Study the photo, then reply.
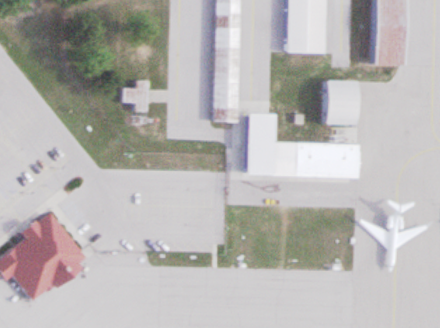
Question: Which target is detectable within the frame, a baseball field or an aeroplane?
aeroplane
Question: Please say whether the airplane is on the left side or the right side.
right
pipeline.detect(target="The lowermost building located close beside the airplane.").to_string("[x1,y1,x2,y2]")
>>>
[244,114,360,179]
